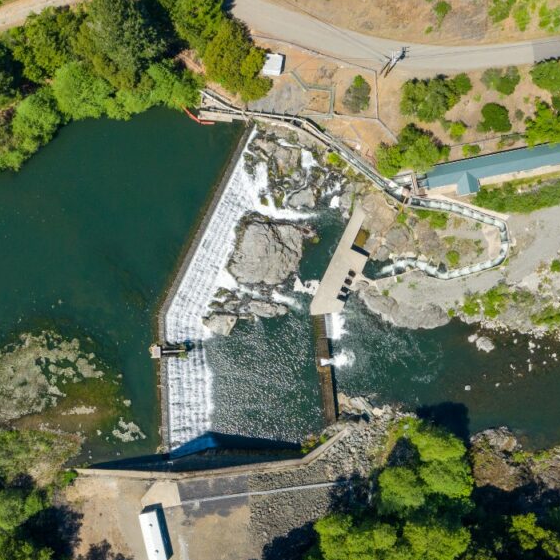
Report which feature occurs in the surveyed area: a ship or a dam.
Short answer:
dam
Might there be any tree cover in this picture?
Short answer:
Yes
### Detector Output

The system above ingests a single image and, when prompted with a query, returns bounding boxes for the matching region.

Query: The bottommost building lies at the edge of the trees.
[426,144,560,198]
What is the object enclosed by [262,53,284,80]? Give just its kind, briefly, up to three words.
shed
